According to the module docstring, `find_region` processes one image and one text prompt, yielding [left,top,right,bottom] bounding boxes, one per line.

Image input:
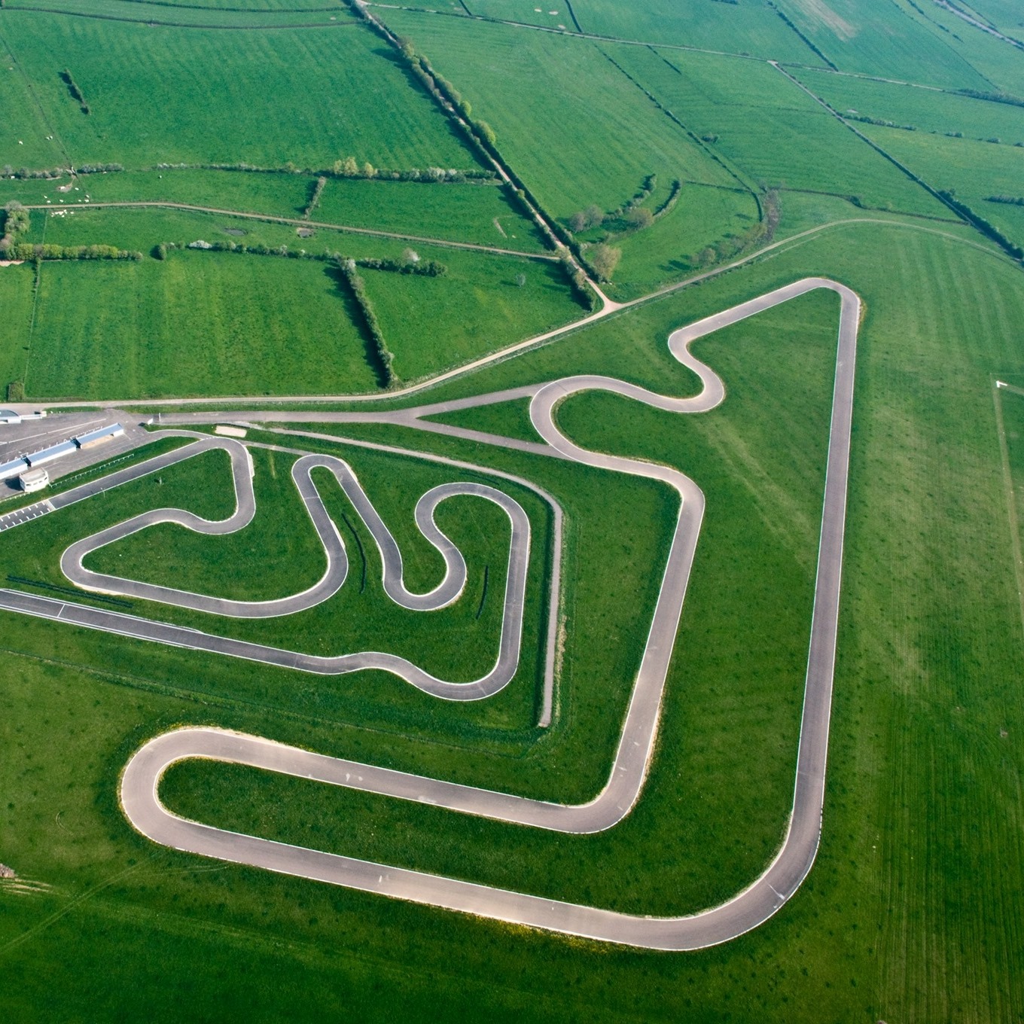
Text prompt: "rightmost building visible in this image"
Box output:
[75,422,124,448]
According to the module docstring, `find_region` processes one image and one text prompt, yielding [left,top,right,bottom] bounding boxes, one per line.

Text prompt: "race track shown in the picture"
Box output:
[0,437,531,700]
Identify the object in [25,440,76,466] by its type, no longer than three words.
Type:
building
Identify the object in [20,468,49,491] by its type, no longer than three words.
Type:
building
